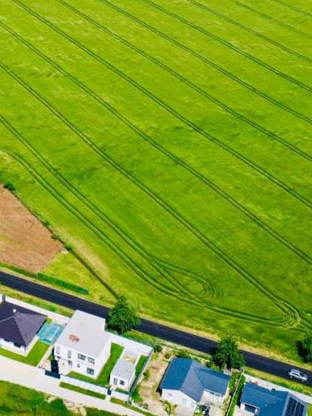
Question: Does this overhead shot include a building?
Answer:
Yes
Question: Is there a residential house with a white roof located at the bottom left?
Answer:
Yes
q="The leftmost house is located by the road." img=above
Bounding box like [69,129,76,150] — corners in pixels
[0,300,45,356]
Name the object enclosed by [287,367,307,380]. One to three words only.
vehicle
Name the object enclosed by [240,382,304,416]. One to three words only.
house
